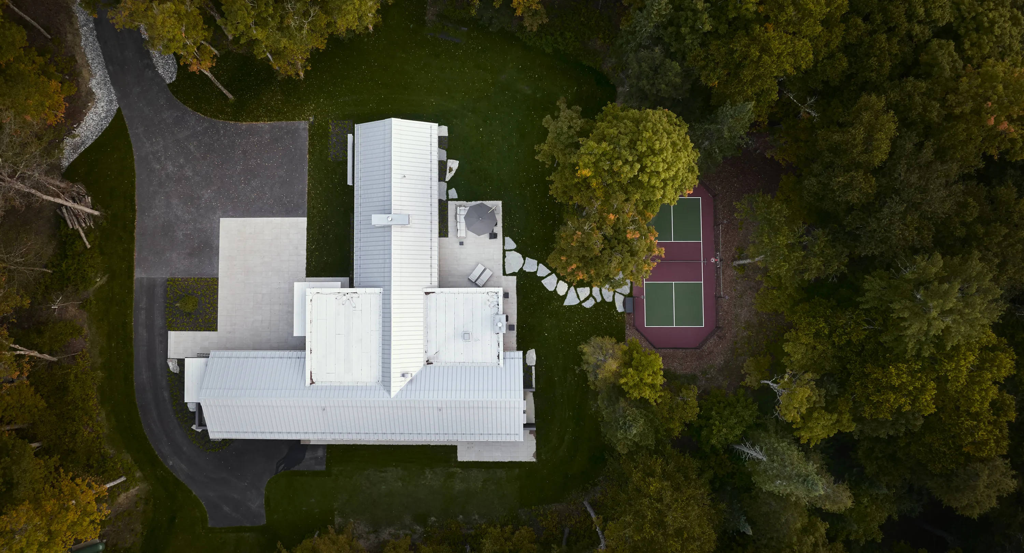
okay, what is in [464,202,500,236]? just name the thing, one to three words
umbrella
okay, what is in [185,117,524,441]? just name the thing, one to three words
house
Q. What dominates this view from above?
trees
